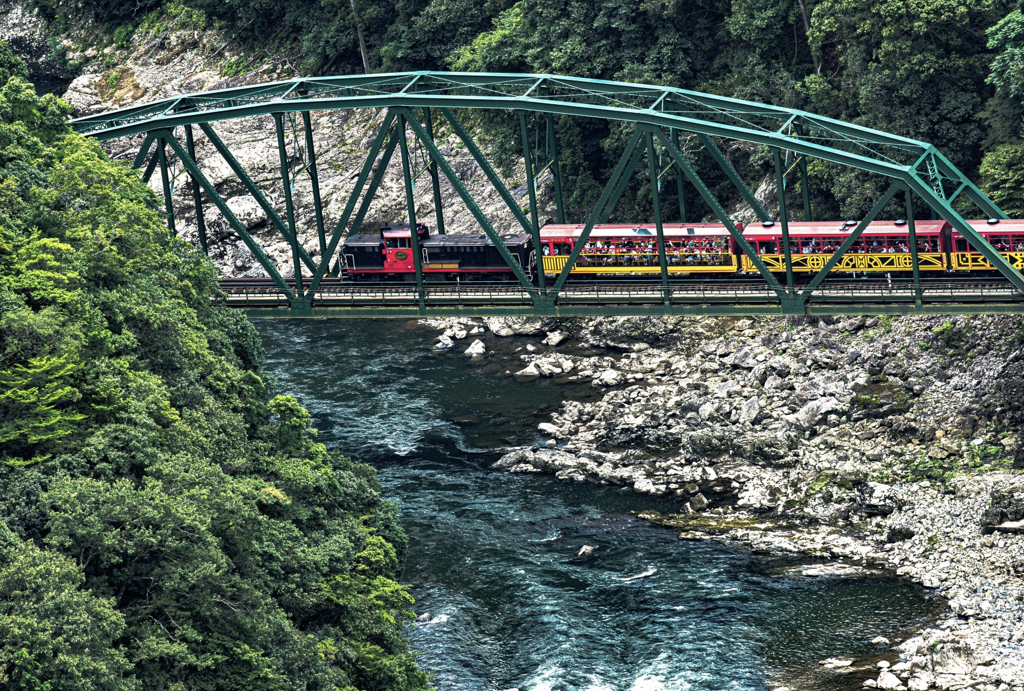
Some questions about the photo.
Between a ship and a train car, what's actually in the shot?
train car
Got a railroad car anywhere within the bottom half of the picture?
No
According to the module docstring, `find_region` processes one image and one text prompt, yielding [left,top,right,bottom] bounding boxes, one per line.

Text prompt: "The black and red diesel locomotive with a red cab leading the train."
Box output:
[342,218,536,283]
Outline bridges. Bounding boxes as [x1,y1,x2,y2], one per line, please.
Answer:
[74,74,1024,318]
